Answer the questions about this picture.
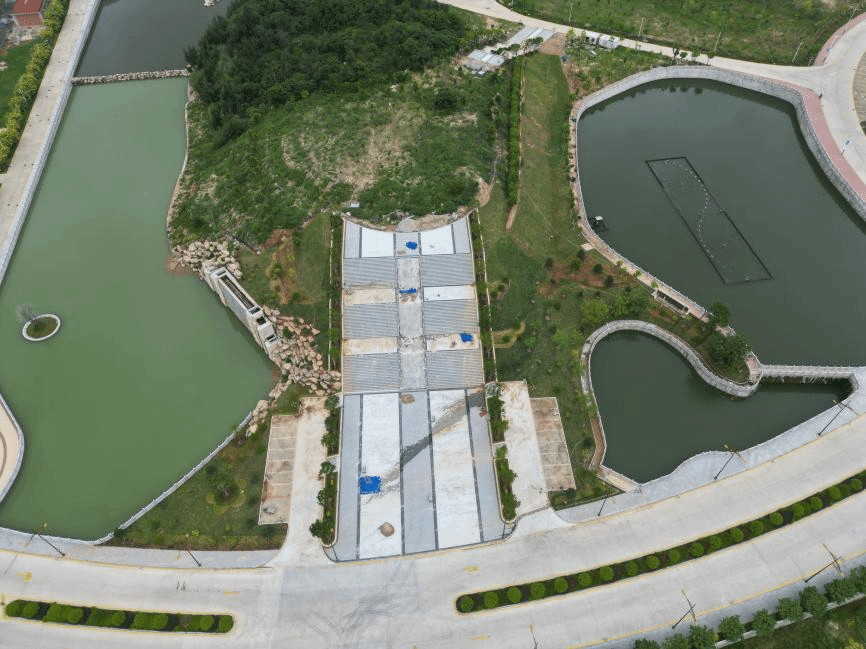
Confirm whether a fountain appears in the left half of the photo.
No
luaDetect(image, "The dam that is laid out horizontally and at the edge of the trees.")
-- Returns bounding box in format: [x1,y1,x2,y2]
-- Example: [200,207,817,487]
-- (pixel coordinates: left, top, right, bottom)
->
[69,69,189,84]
